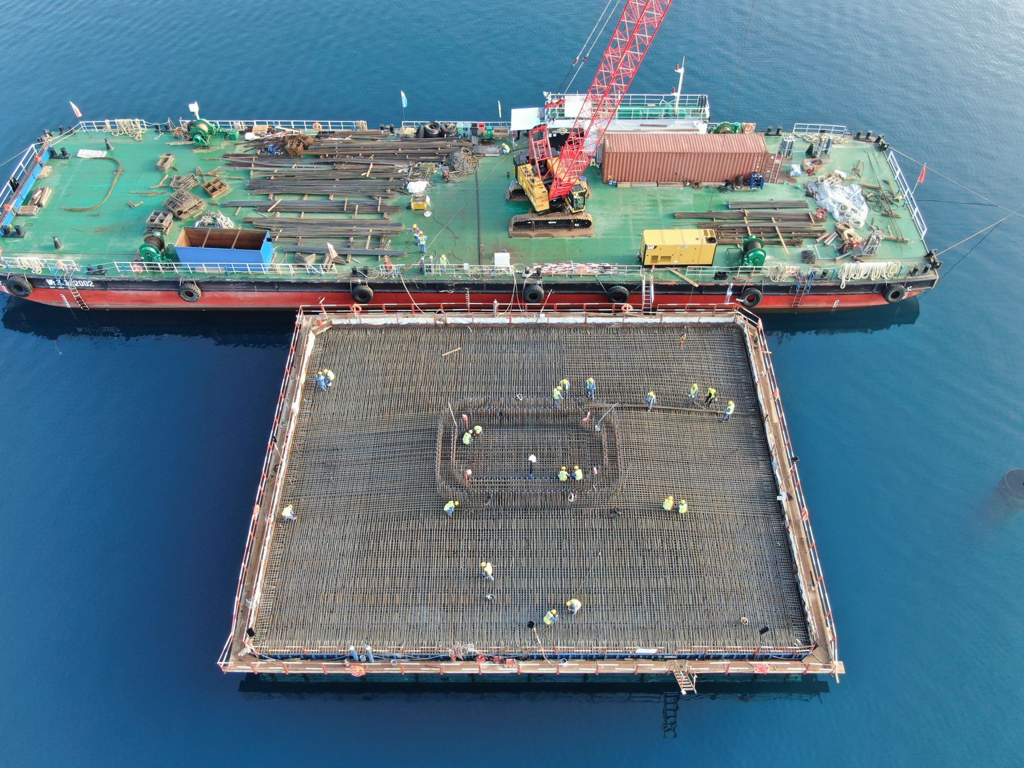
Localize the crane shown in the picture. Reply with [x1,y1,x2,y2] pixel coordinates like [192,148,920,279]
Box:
[507,0,747,338]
